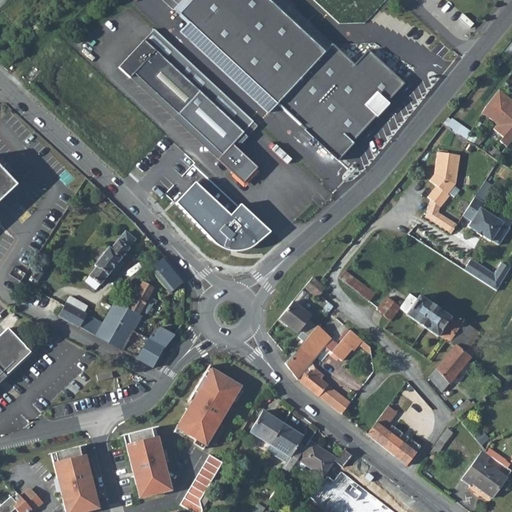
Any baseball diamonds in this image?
No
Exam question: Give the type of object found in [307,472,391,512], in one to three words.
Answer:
building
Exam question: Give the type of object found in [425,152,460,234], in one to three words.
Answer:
house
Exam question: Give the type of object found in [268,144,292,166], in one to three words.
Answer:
truck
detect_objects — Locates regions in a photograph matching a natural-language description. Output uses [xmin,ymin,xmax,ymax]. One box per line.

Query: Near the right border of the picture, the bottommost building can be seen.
[461,449,510,500]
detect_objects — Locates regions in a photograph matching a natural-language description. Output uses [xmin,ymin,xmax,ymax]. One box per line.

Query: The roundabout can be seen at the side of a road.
[196,278,264,346]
